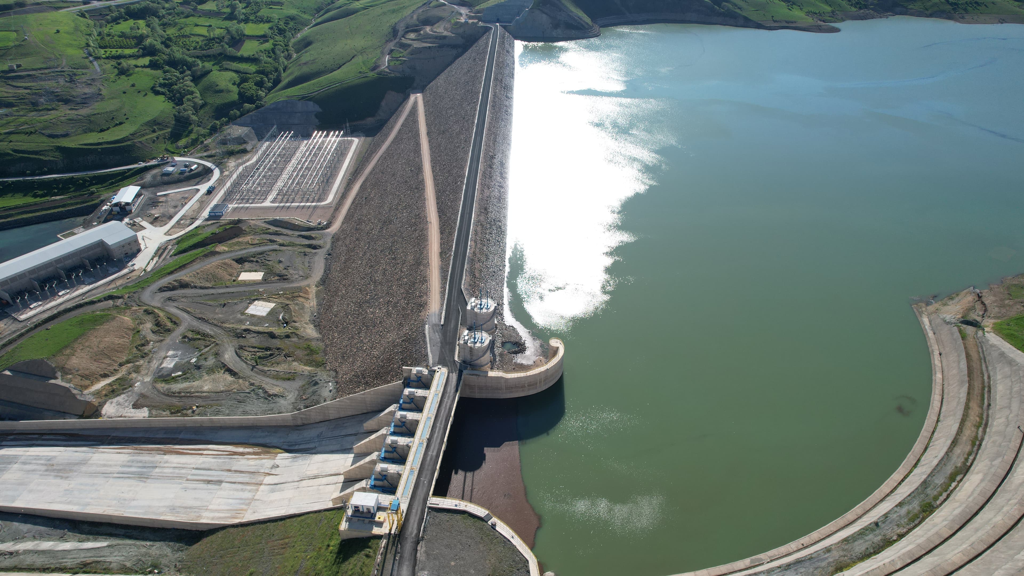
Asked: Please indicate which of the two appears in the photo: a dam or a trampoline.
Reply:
dam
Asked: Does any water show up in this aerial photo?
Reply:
Yes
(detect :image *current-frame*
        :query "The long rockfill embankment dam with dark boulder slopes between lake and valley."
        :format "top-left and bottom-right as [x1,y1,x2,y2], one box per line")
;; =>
[313,25,542,399]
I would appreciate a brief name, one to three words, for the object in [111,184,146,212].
shed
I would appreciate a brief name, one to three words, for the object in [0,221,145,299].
building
